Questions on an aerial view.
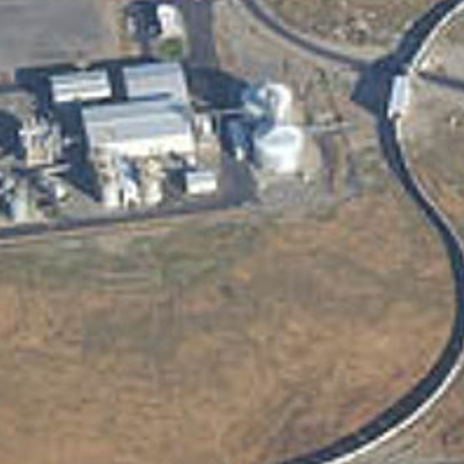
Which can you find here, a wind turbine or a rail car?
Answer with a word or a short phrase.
rail car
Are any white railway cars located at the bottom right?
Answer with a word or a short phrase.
Yes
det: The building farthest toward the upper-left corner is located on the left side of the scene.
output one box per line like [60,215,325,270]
[52,70,109,101]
